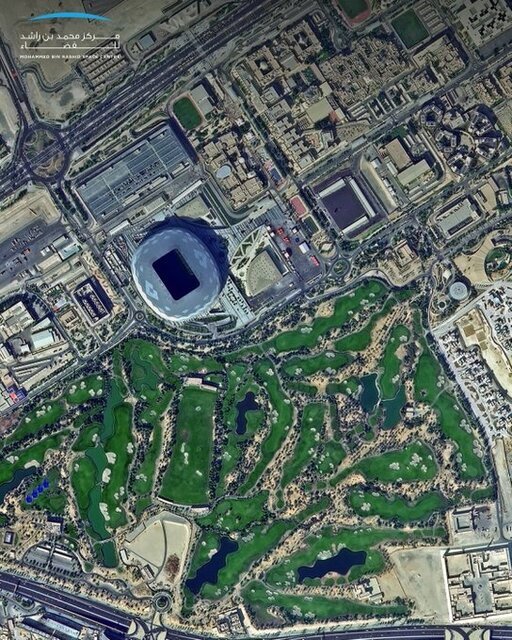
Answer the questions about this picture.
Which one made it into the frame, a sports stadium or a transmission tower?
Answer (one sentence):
This aerial view contains a sports stadium.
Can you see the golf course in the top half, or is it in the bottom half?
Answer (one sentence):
It is in the bottom half that the golf course appears.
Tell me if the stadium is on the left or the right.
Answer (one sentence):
The stadium is on the left side of the image.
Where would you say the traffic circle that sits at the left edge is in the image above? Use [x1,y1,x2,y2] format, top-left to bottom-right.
[19,127,66,180]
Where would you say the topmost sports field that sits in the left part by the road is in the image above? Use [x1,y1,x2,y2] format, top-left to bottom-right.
[168,90,207,135]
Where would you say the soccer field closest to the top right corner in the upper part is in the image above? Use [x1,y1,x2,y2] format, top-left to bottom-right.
[389,7,431,51]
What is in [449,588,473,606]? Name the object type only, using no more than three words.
house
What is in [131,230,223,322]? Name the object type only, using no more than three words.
stadium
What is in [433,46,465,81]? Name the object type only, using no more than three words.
building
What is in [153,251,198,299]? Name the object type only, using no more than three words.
sports field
